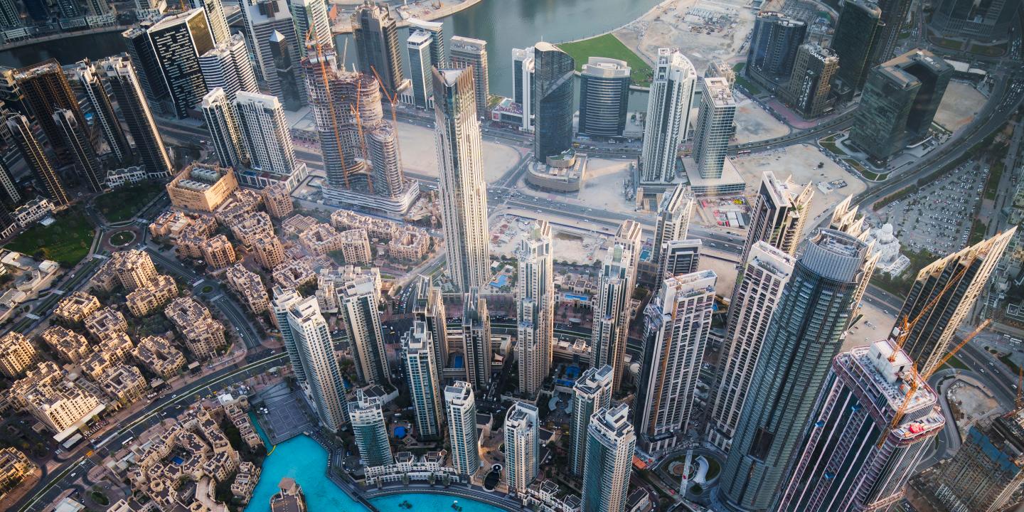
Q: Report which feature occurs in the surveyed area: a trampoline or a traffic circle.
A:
traffic circle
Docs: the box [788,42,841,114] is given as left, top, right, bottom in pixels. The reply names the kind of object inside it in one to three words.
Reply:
building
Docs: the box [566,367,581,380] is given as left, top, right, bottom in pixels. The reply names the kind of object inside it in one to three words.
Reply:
swimming pool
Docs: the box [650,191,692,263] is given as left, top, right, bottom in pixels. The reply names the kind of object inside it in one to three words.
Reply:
building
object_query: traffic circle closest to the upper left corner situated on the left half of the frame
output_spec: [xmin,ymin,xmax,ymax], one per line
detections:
[94,220,150,256]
